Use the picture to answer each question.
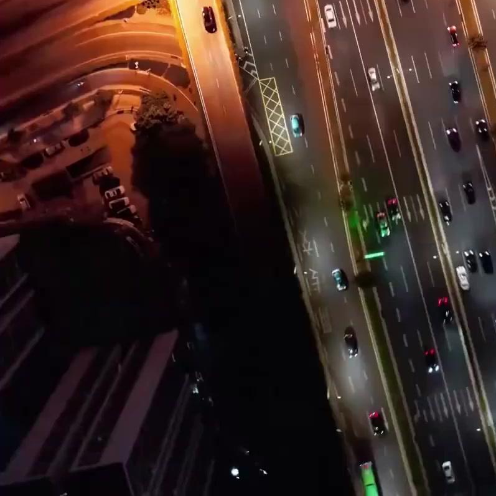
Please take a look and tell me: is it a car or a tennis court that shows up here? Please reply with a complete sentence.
Of the two, only a car appears.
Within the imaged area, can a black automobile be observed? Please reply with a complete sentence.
Yes, a black automobile is visible in the scene.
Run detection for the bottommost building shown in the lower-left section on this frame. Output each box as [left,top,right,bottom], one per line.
[0,329,222,496]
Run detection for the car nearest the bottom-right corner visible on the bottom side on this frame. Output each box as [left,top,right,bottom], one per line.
[441,457,455,483]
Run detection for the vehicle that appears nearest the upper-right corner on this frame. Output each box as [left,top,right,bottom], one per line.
[446,23,460,49]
